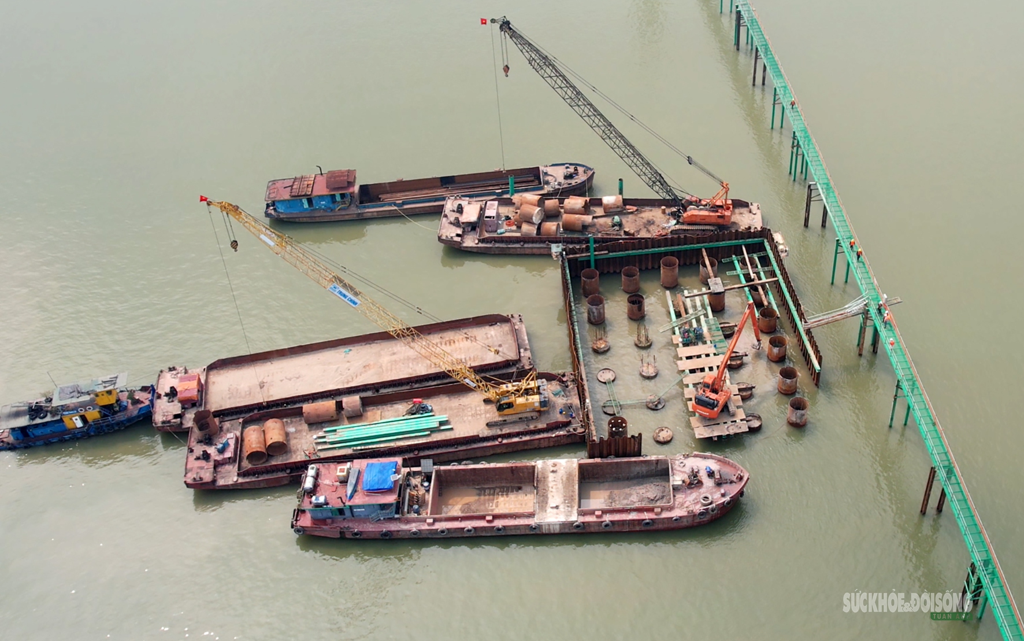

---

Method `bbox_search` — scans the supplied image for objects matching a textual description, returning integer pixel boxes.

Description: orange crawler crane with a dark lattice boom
[491,21,730,236]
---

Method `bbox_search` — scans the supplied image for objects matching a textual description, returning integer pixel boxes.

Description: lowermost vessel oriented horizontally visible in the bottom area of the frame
[289,450,751,543]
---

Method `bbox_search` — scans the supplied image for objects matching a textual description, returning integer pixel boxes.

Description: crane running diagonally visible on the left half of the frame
[209,199,549,429]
